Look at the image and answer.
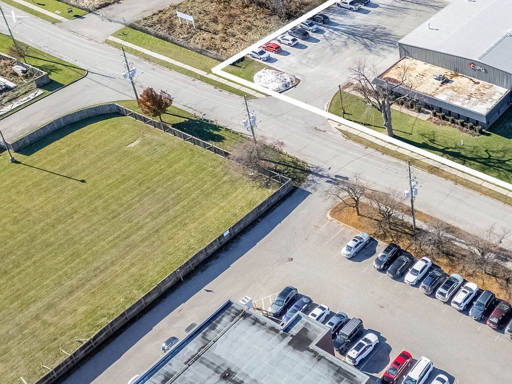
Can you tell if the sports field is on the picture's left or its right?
left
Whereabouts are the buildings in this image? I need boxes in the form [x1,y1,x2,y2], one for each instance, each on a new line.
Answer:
[375,0,512,129]
[135,299,373,384]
